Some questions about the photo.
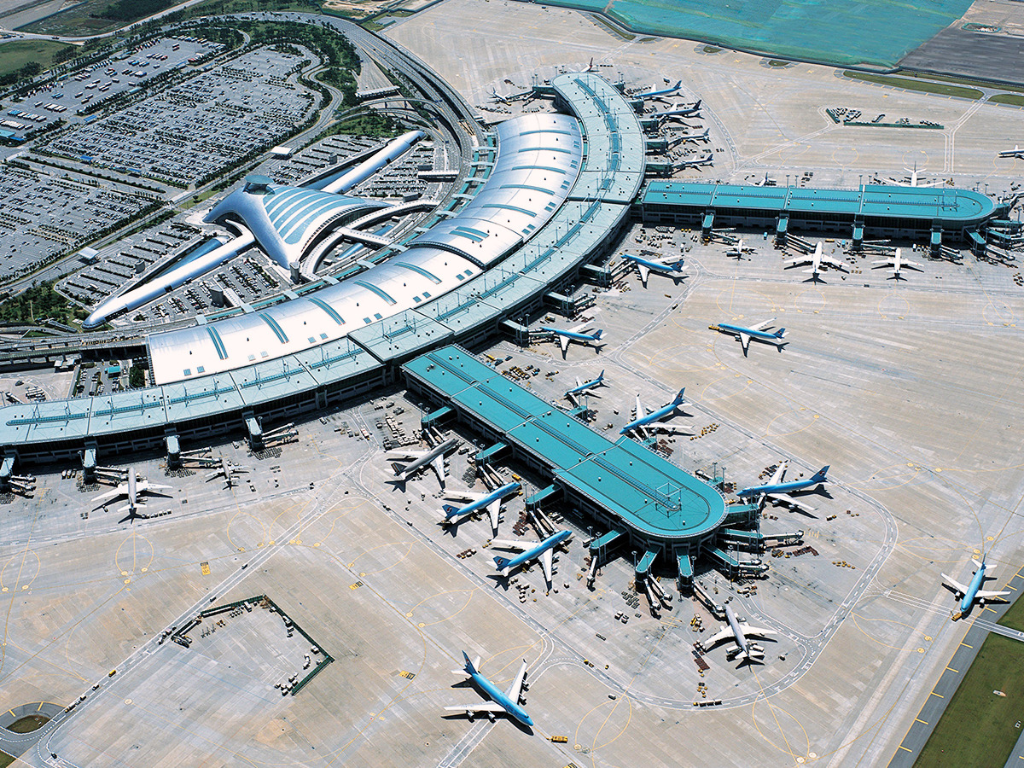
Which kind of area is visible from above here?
airport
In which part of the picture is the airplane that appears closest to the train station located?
top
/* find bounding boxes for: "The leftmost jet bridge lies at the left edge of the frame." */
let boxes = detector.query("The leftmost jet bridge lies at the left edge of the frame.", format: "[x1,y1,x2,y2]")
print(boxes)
[0,453,40,495]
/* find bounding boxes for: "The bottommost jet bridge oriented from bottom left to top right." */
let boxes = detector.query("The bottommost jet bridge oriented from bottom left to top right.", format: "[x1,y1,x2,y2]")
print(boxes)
[584,523,635,586]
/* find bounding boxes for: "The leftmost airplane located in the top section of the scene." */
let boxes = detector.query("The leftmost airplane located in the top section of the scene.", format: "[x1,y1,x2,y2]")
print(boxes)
[481,83,516,105]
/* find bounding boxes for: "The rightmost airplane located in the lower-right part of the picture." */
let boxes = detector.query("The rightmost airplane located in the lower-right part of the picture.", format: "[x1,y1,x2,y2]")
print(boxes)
[942,554,1009,612]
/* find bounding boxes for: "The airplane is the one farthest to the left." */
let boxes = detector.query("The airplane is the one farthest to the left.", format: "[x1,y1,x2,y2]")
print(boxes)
[92,465,173,510]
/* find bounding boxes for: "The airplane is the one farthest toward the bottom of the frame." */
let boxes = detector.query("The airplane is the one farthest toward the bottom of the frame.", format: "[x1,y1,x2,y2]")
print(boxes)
[444,653,535,726]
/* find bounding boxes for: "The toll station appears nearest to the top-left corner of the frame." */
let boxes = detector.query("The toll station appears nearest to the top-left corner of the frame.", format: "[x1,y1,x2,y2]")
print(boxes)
[78,246,99,265]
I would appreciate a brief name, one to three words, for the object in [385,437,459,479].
airplane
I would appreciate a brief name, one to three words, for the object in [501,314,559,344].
jet bridge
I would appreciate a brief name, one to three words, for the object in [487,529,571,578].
airplane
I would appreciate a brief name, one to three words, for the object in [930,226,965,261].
jet bridge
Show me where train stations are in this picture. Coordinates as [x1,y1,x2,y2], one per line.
[93,132,459,329]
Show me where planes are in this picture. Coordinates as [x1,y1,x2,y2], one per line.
[747,169,779,185]
[942,554,1009,612]
[544,318,607,349]
[704,605,776,657]
[872,248,924,272]
[385,437,459,479]
[92,465,173,510]
[634,80,685,100]
[564,372,606,396]
[884,167,944,187]
[204,458,248,483]
[622,252,687,279]
[678,153,711,168]
[718,316,788,347]
[487,529,571,578]
[619,388,693,434]
[737,458,831,508]
[444,653,535,726]
[785,243,850,271]
[652,99,705,121]
[677,129,706,144]
[437,482,519,526]
[481,83,516,105]
[722,242,757,257]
